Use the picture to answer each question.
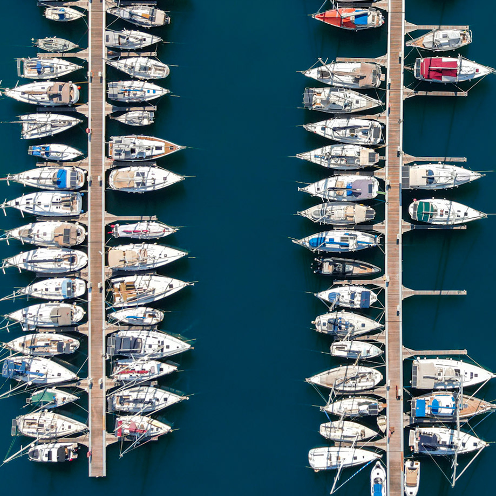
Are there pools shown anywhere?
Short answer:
No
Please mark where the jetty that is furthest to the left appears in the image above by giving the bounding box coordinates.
[35,0,159,477]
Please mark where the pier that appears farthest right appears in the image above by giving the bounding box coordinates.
[332,0,469,496]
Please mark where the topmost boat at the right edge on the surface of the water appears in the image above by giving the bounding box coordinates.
[404,28,481,53]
